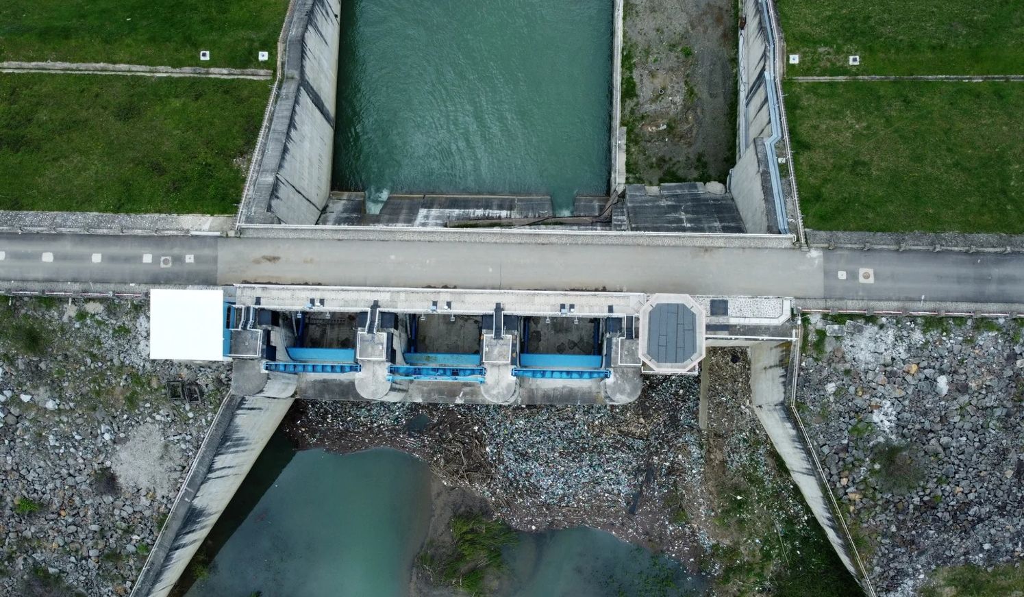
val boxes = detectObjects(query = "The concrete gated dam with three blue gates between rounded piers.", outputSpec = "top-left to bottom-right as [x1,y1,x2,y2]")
[229,0,795,429]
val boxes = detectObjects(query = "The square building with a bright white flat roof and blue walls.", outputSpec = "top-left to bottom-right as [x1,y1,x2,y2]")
[151,286,242,362]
